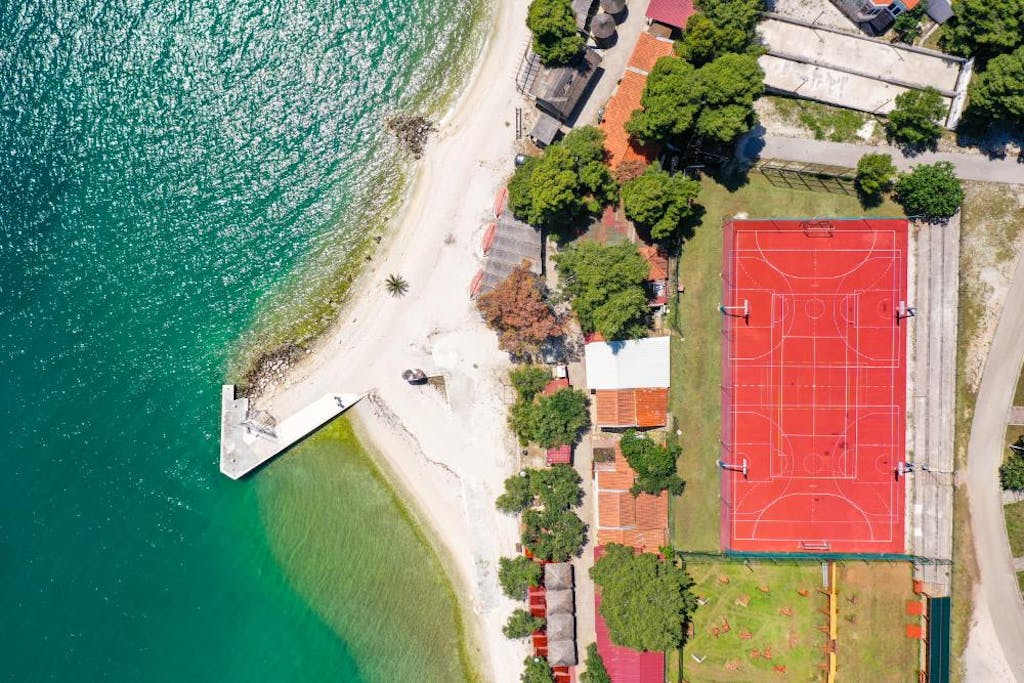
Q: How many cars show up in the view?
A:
0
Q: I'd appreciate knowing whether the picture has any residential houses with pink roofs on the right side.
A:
Yes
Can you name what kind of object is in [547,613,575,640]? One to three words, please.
building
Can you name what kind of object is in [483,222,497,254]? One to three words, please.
boat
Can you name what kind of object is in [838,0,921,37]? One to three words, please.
house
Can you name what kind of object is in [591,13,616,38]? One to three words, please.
umbrella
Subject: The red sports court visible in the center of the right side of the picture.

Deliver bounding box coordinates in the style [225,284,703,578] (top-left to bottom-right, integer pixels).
[721,219,908,552]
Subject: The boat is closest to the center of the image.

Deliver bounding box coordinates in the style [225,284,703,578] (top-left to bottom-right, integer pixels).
[470,269,483,297]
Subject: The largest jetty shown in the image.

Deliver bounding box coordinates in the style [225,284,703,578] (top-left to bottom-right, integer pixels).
[220,385,363,479]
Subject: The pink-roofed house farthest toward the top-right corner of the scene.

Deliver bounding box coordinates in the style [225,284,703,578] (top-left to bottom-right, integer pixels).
[644,0,692,37]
